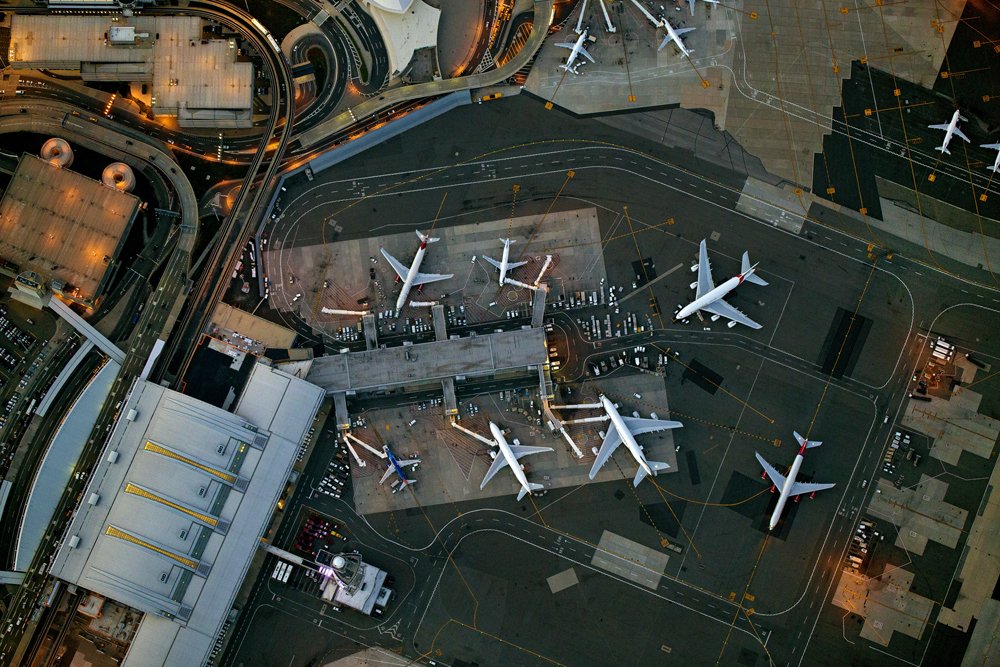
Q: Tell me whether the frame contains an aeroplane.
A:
Yes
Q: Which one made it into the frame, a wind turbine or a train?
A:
train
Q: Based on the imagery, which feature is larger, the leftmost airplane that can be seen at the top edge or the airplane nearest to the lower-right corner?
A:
the airplane nearest to the lower-right corner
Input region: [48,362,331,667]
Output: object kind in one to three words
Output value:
building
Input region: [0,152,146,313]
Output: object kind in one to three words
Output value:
building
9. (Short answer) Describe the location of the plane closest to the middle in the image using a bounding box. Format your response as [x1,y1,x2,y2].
[481,237,528,286]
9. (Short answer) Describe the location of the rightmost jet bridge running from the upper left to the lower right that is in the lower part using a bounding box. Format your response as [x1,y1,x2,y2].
[558,425,584,459]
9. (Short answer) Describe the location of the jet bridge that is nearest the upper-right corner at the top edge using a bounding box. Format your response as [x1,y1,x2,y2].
[632,0,661,29]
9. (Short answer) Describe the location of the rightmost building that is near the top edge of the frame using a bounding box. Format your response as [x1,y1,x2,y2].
[370,0,441,85]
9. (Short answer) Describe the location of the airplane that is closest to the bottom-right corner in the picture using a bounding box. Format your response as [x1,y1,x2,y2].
[754,435,839,529]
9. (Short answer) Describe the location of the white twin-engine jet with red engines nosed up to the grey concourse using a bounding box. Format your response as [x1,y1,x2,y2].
[380,232,454,310]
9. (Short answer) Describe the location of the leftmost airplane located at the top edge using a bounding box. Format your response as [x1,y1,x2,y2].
[555,30,595,71]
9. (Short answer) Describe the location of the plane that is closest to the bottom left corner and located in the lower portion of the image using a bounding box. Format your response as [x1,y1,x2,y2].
[377,448,421,489]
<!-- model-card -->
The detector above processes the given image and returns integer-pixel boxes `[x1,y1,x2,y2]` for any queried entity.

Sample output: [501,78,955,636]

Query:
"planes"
[377,448,421,489]
[555,30,595,71]
[928,110,972,155]
[659,18,697,59]
[480,422,554,500]
[586,395,682,486]
[754,435,839,529]
[481,237,528,286]
[980,140,1000,173]
[380,232,454,310]
[676,242,769,330]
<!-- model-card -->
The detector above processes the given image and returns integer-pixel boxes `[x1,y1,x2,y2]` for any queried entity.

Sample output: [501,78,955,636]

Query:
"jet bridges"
[574,0,588,34]
[600,0,614,33]
[451,421,494,447]
[558,425,584,459]
[503,277,539,291]
[632,0,661,29]
[345,431,387,461]
[550,401,603,410]
[321,308,369,317]
[534,254,552,287]
[408,301,438,311]
[560,414,611,425]
[342,435,367,468]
